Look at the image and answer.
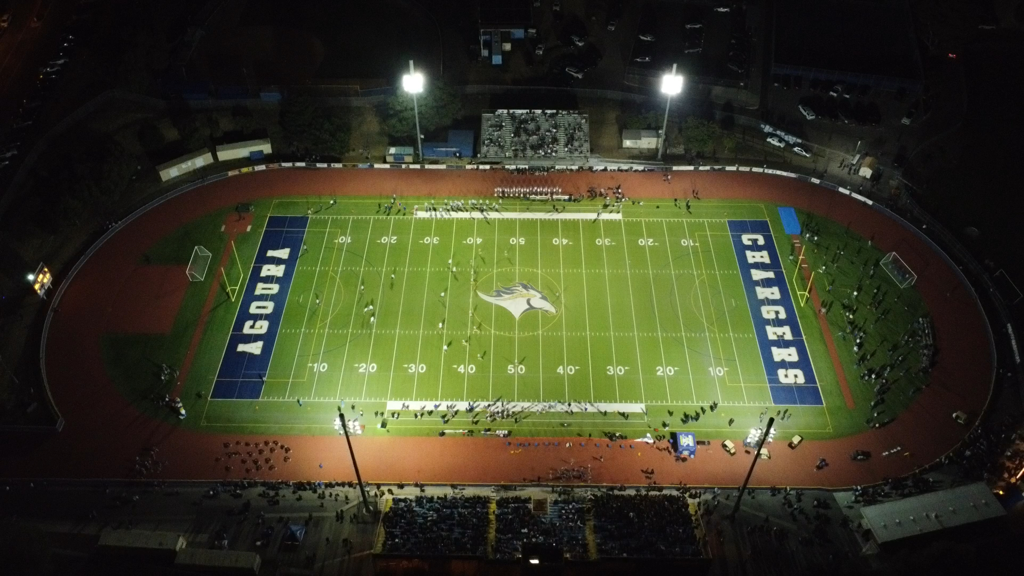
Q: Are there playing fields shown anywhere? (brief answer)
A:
Yes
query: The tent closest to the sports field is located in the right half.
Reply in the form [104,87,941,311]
[674,430,700,458]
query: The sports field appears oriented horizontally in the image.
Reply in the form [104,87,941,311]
[183,195,850,440]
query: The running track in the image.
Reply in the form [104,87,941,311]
[0,167,993,490]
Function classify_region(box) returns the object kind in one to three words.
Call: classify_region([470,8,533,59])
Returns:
building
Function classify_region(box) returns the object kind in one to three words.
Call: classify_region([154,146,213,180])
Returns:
building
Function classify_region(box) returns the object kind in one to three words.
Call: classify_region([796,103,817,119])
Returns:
car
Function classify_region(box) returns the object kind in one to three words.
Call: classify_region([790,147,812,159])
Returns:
vehicle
